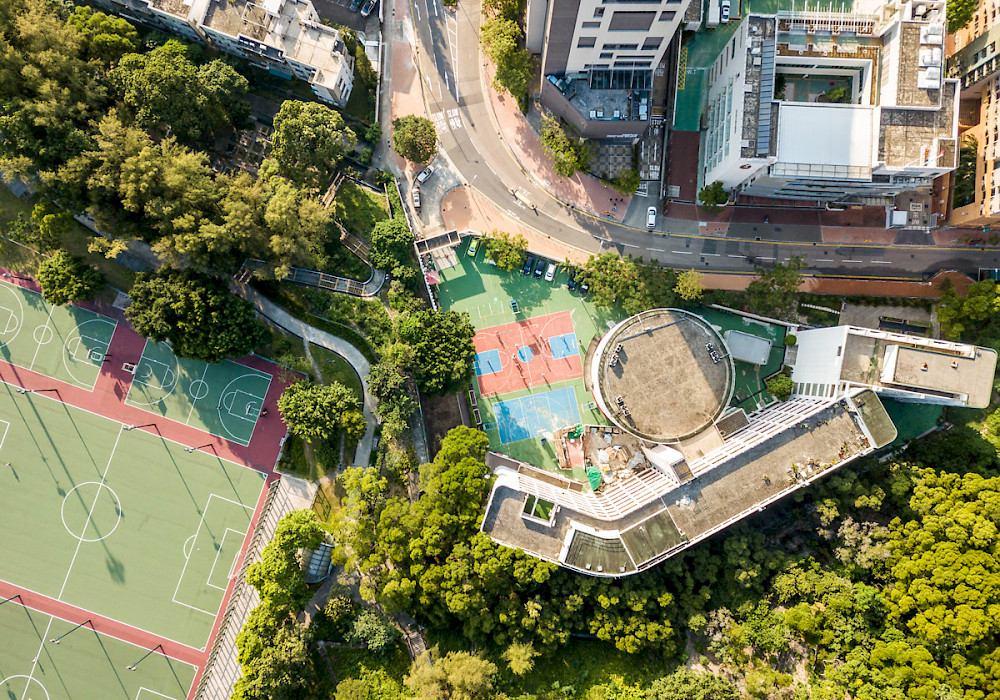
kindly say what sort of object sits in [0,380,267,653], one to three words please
soccer field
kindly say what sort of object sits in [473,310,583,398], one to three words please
basketball court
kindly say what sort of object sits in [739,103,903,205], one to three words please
building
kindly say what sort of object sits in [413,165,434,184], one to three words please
car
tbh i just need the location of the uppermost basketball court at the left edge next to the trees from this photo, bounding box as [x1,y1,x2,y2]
[0,280,116,391]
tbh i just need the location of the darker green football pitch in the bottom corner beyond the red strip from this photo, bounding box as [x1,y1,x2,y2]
[0,597,197,700]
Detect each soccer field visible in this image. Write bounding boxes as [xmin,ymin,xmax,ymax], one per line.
[0,597,197,700]
[0,380,267,653]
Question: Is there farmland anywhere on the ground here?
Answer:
No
